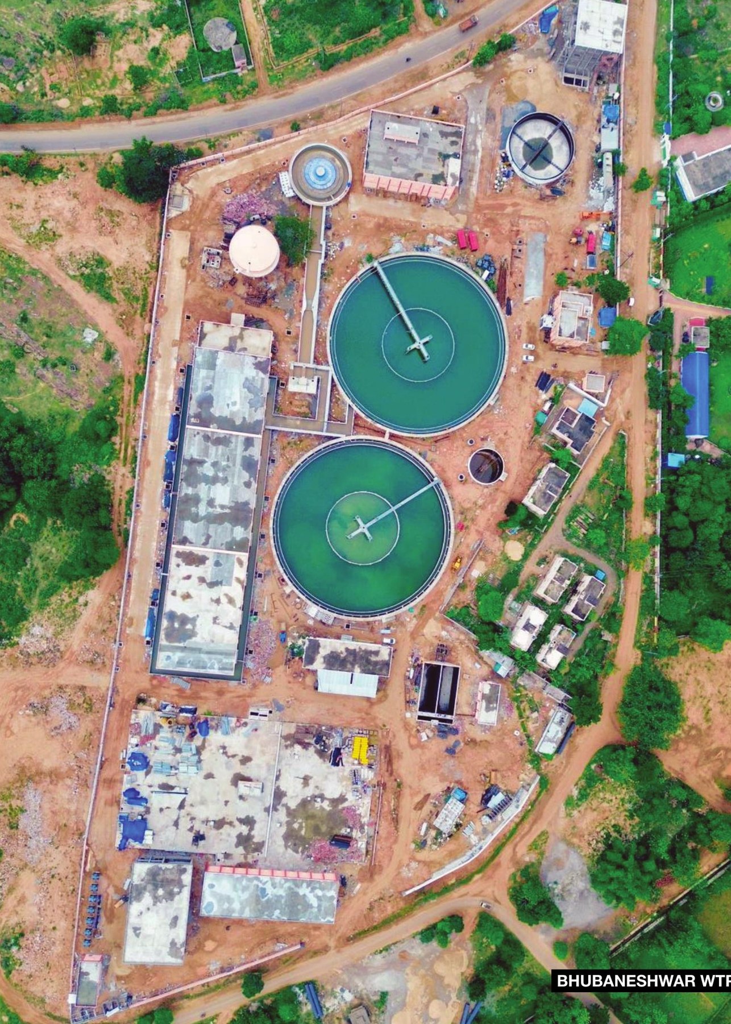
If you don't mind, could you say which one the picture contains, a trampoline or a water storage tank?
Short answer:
water storage tank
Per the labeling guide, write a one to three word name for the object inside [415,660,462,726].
storage tank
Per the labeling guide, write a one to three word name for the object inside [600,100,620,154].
shed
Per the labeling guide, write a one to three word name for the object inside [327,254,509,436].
water tank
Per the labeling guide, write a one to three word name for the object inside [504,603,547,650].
building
